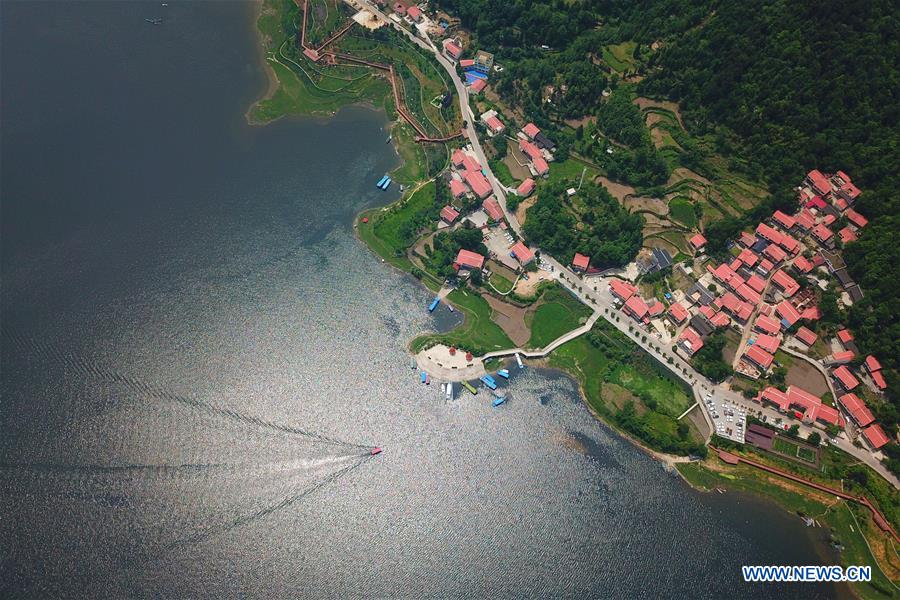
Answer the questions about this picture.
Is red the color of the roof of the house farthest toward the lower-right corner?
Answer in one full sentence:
Yes, red is the color of the roof of the house farthest toward the lower-right corner.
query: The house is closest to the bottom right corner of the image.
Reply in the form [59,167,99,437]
[859,423,893,451]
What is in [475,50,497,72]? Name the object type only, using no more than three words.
house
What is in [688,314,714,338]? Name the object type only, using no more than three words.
house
